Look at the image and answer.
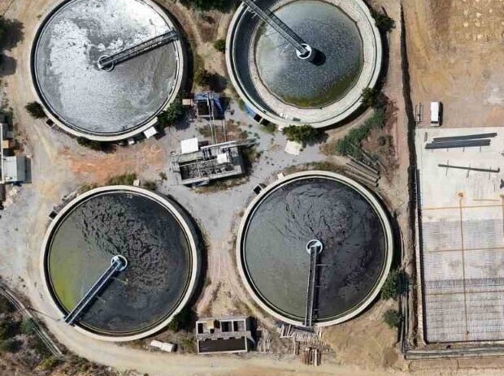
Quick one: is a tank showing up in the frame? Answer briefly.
Yes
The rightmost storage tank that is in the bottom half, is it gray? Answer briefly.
Yes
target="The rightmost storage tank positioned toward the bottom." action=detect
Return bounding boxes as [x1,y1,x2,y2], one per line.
[237,171,394,328]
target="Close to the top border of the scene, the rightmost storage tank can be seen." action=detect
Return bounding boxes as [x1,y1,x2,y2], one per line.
[227,0,384,128]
